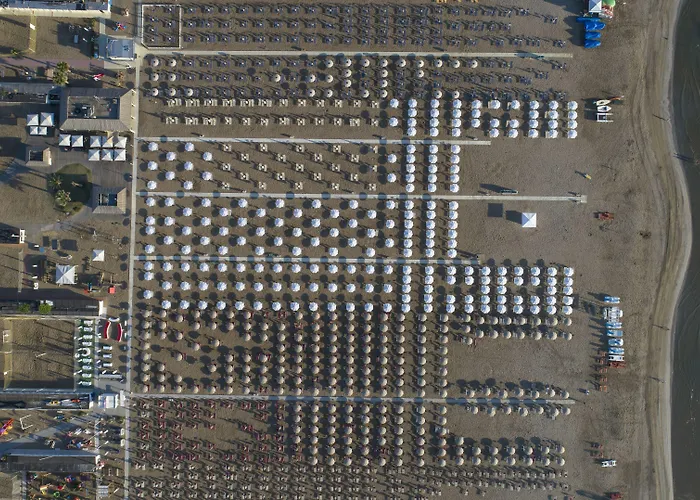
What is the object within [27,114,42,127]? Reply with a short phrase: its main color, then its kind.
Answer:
white gazebo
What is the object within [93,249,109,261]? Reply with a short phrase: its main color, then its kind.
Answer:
white gazebo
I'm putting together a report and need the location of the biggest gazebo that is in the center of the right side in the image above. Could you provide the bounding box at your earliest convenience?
[519,212,537,226]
